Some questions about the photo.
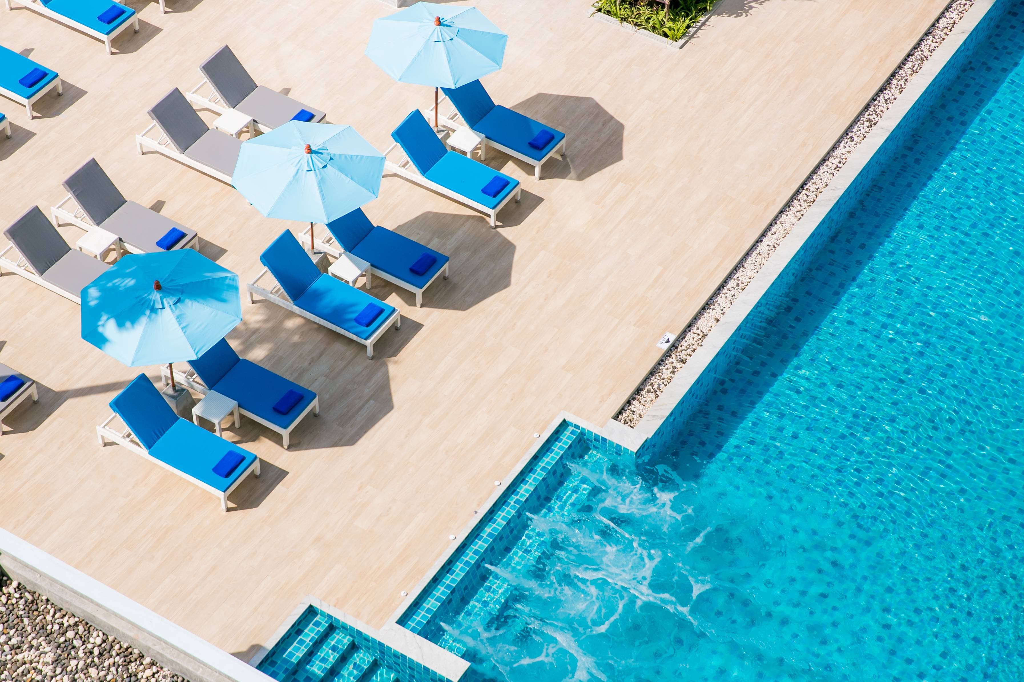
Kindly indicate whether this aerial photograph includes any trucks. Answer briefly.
No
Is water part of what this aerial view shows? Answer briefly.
Yes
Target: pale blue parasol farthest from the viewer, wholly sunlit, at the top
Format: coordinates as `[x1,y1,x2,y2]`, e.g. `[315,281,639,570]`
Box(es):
[366,0,508,142]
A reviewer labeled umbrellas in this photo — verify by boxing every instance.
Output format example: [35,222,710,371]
[231,120,387,272]
[81,250,244,417]
[366,0,508,142]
